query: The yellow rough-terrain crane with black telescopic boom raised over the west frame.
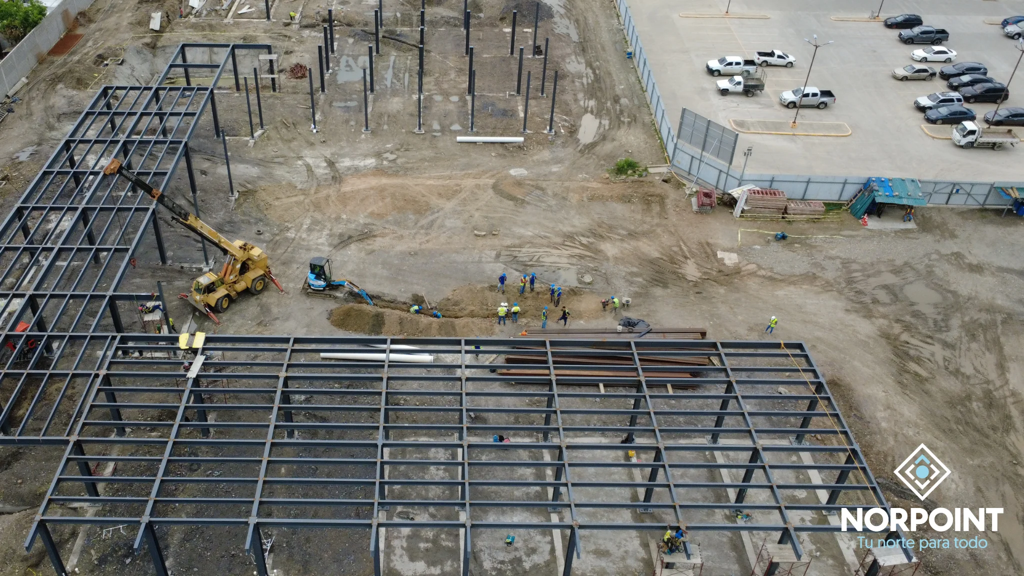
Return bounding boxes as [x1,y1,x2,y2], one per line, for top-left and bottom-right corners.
[106,166,285,328]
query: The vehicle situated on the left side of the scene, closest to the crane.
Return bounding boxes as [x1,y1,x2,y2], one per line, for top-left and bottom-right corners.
[301,257,377,307]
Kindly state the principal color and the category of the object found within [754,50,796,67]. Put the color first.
white vehicle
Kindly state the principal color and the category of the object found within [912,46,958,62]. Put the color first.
white car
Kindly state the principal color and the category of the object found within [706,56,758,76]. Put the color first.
white vehicle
